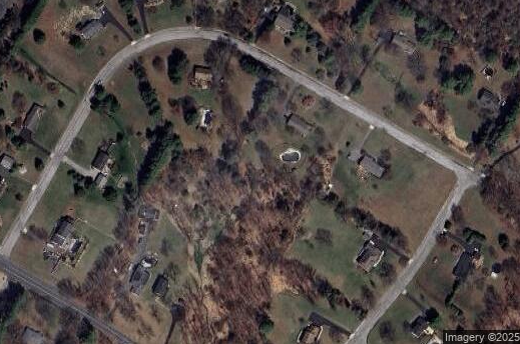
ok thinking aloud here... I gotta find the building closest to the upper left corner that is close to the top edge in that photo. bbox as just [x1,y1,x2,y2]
[79,16,112,38]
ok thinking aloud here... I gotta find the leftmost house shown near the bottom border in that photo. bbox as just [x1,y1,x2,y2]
[22,325,47,344]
